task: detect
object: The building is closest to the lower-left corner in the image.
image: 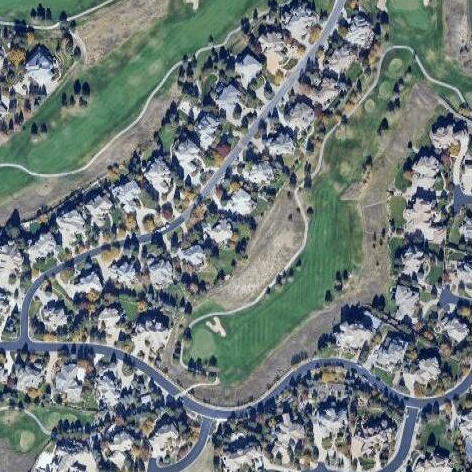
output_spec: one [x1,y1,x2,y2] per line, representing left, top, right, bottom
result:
[45,444,91,472]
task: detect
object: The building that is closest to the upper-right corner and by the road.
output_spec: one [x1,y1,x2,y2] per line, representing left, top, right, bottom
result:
[340,14,380,53]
